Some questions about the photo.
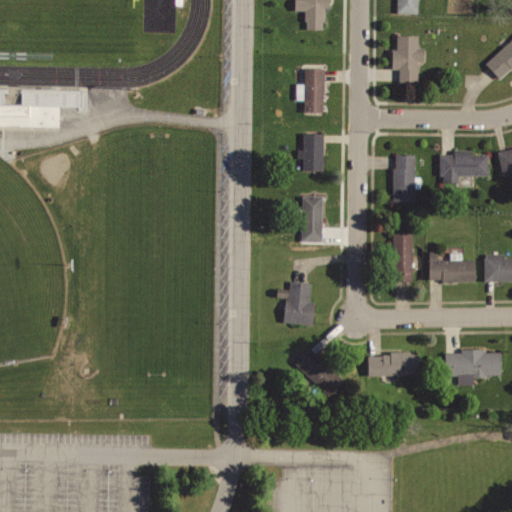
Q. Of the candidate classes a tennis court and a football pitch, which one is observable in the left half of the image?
football pitch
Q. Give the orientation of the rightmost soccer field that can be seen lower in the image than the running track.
up and down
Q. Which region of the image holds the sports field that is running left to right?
top left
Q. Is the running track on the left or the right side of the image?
left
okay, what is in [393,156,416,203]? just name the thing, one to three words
house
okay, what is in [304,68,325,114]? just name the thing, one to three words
house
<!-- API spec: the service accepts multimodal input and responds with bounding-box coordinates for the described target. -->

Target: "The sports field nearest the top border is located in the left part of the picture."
[0,0,191,68]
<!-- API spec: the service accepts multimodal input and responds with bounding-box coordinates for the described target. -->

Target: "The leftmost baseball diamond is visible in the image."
[0,158,68,366]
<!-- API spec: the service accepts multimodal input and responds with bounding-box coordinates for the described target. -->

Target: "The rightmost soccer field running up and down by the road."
[92,124,216,419]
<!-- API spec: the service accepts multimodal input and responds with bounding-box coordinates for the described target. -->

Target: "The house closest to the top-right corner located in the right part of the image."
[482,42,512,86]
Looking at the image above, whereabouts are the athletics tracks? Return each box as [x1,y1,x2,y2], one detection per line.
[0,0,214,89]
